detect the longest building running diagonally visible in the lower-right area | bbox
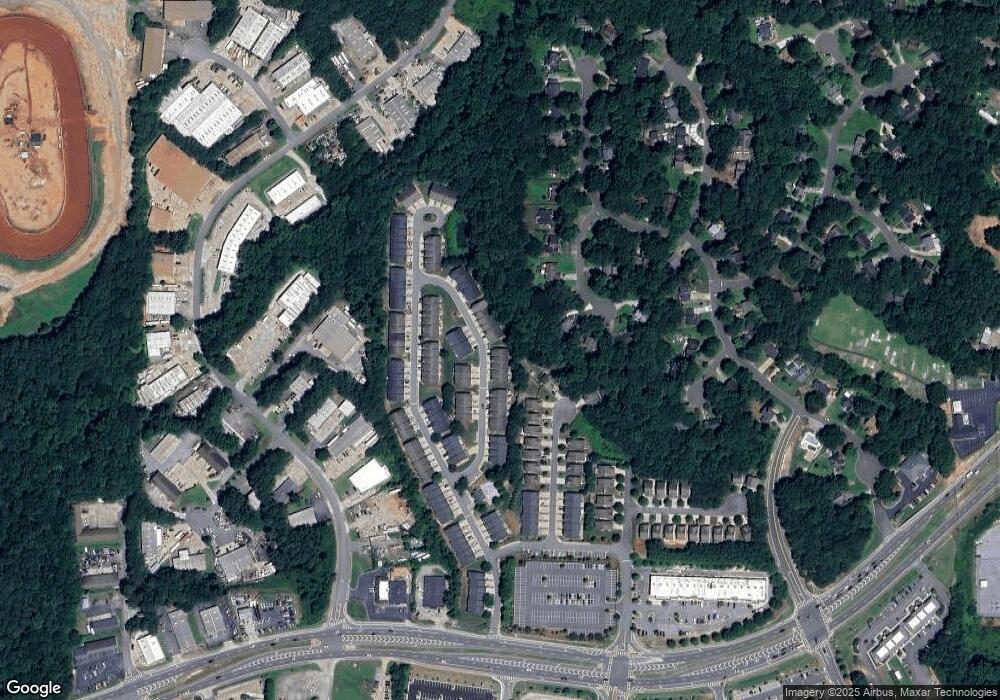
[862,597,947,681]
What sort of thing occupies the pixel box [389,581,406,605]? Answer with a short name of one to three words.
building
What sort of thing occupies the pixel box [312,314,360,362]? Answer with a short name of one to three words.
building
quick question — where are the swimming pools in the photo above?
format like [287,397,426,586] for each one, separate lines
[481,482,500,505]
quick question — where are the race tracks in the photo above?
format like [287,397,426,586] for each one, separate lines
[0,14,89,261]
